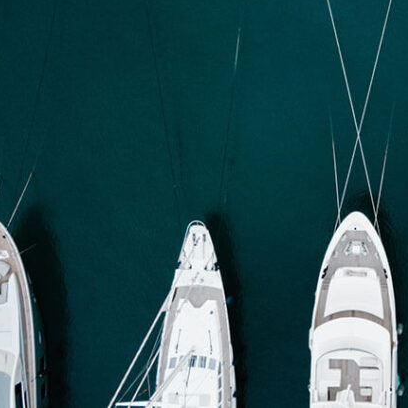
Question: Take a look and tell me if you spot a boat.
Yes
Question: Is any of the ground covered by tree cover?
No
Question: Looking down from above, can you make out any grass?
No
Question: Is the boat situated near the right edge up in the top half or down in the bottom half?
bottom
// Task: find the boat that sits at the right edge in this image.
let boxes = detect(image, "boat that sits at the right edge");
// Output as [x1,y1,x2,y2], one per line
[307,210,399,408]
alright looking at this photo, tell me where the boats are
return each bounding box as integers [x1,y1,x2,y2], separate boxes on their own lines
[307,210,399,408]
[0,217,50,408]
[111,220,238,408]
